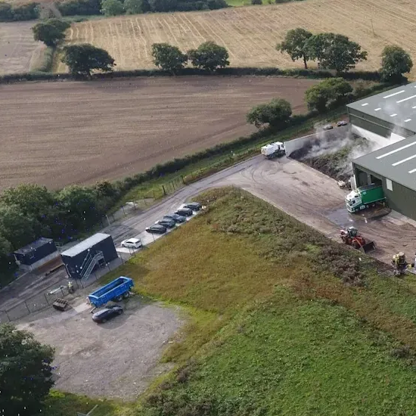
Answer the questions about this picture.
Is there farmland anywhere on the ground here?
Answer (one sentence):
Yes, there's farmland in this view.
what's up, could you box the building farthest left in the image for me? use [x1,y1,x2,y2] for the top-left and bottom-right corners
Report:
[11,238,65,271]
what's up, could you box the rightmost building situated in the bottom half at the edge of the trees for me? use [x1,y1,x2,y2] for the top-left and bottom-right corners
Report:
[58,233,117,278]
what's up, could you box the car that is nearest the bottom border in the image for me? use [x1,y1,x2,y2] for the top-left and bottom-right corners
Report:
[92,303,125,321]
